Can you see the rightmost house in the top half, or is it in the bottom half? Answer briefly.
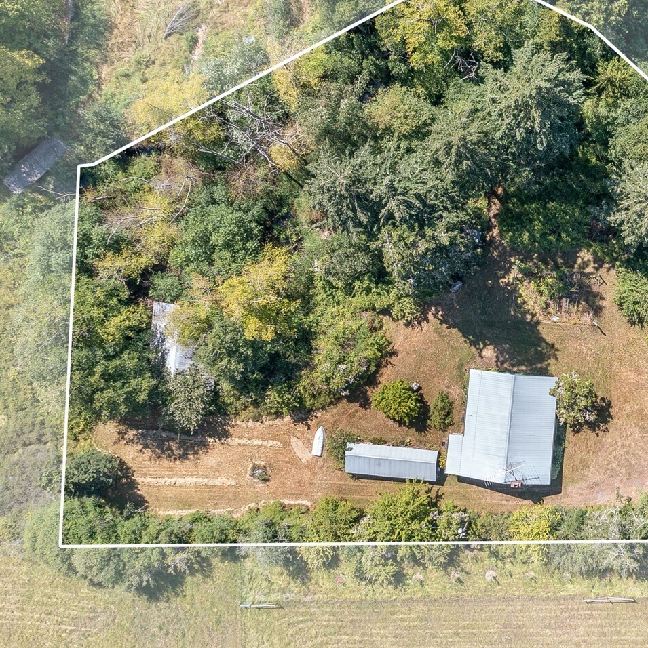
bottom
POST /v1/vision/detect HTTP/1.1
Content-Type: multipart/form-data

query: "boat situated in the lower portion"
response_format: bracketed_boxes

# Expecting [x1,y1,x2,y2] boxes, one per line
[312,426,324,457]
